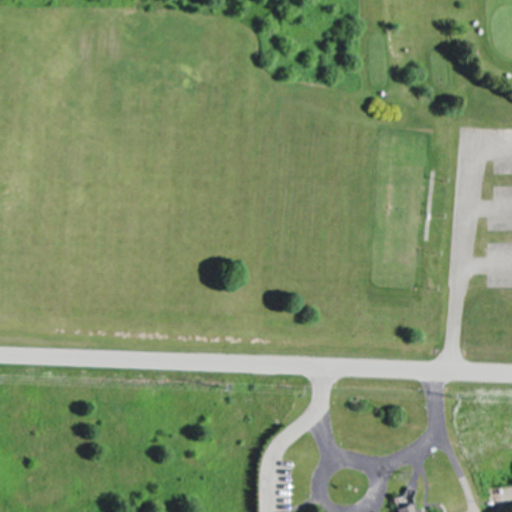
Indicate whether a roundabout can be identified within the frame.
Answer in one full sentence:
Yes, the frame does contain a roundabout.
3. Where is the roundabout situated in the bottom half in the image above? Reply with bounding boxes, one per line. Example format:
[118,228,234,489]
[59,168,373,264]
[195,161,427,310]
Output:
[318,458,380,512]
